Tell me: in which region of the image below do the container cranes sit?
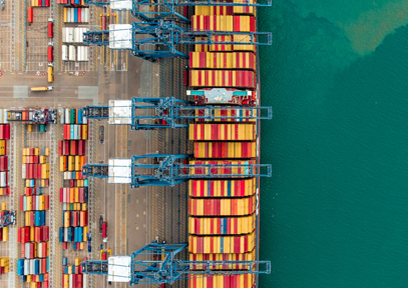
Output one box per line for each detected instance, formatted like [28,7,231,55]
[79,0,271,31]
[4,107,54,127]
[79,232,271,286]
[79,147,271,189]
[79,95,271,136]
[79,20,271,71]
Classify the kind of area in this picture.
port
